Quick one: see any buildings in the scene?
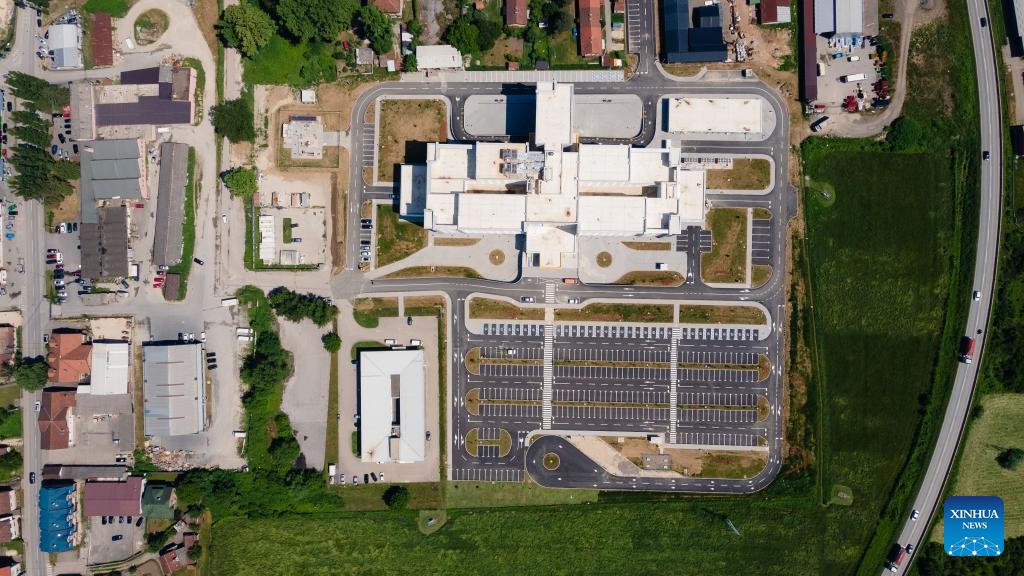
Yes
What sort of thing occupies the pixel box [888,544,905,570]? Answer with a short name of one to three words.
vehicle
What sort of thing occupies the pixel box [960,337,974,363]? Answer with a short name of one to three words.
vehicle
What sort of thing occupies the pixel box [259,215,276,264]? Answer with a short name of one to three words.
building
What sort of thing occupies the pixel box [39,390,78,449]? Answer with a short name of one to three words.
house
